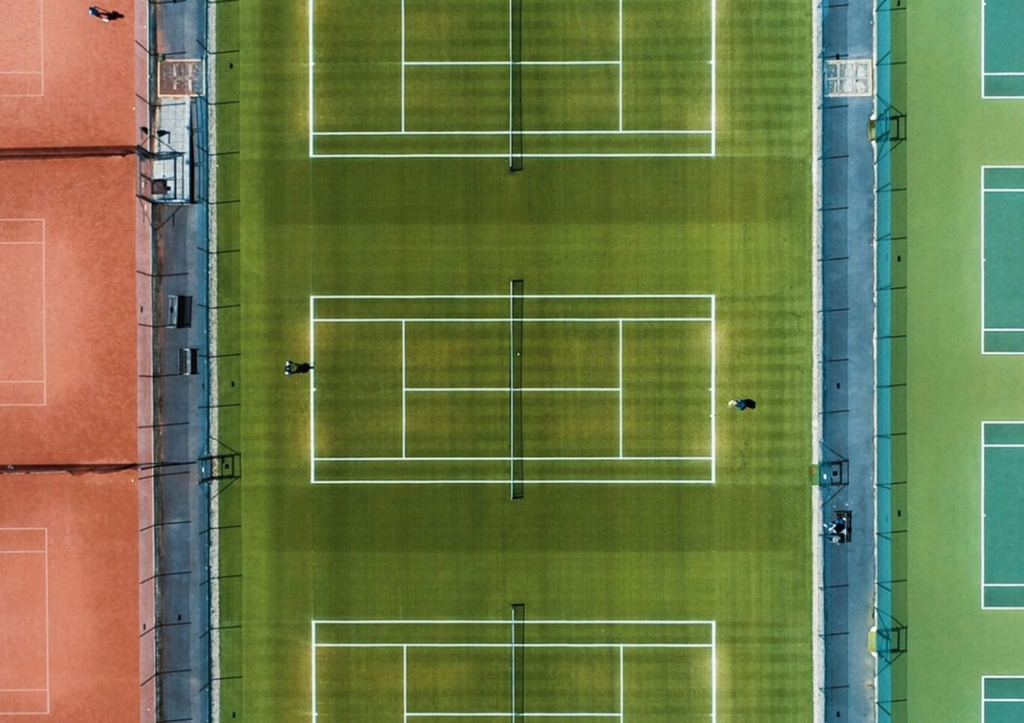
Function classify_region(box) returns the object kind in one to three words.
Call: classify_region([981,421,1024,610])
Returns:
tennis court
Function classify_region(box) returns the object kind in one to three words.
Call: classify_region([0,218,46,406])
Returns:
tennis court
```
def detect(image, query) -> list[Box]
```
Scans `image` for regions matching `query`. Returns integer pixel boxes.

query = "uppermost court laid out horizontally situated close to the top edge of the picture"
[309,0,715,158]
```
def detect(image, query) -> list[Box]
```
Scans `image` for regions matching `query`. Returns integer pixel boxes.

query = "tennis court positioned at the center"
[310,295,715,484]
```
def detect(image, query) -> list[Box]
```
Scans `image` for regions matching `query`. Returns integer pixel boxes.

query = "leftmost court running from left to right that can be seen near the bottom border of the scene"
[311,621,716,723]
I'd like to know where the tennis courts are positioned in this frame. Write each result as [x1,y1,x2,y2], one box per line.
[981,421,1024,610]
[981,676,1024,723]
[311,621,716,723]
[981,165,1024,355]
[309,0,715,158]
[0,218,46,406]
[0,0,43,96]
[310,295,715,484]
[981,0,1024,98]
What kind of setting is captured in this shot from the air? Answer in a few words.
sports ground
